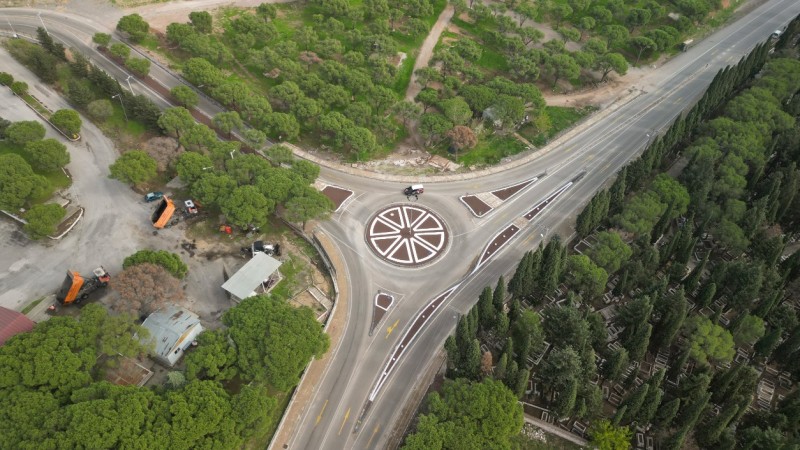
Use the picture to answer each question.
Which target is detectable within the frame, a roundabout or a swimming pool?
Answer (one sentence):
This aerial view contains a roundabout.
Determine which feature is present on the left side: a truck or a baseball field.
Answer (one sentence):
You can see a truck on the left side.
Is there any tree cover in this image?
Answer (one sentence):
Yes, the picture does contain tree cover.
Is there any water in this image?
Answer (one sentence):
No, the scene doesn't show any water.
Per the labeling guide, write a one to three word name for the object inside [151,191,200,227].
truck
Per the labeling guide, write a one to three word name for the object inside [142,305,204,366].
house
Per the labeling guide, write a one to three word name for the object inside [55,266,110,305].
truck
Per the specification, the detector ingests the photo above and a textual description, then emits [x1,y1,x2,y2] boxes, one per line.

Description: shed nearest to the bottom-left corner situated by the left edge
[0,305,38,348]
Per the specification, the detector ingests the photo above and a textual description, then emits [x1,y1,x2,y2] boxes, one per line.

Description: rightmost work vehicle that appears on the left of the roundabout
[242,239,284,257]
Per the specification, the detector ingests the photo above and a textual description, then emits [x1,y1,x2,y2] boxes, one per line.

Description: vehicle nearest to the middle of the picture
[403,184,423,197]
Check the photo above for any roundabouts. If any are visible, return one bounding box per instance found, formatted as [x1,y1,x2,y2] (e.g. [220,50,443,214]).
[362,203,451,269]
